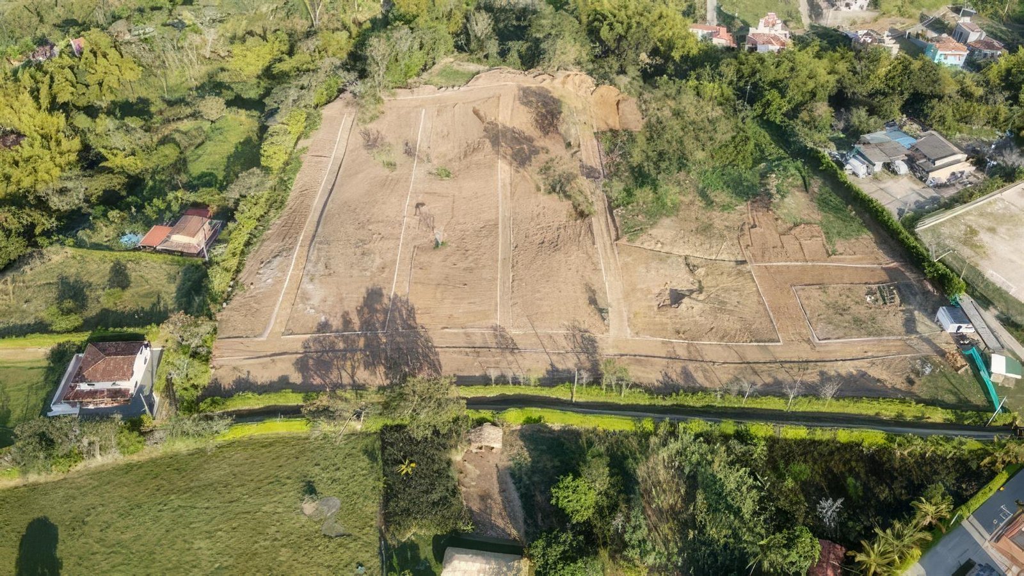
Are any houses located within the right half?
Yes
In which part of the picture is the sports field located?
right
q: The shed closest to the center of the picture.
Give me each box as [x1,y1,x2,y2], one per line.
[471,425,503,453]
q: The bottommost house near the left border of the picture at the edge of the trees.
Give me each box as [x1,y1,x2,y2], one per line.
[49,340,155,421]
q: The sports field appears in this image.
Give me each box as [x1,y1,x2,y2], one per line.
[917,184,1024,303]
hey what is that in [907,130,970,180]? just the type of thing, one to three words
building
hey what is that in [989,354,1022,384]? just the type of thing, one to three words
shed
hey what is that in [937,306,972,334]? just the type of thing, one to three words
building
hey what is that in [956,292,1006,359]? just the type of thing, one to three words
shed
